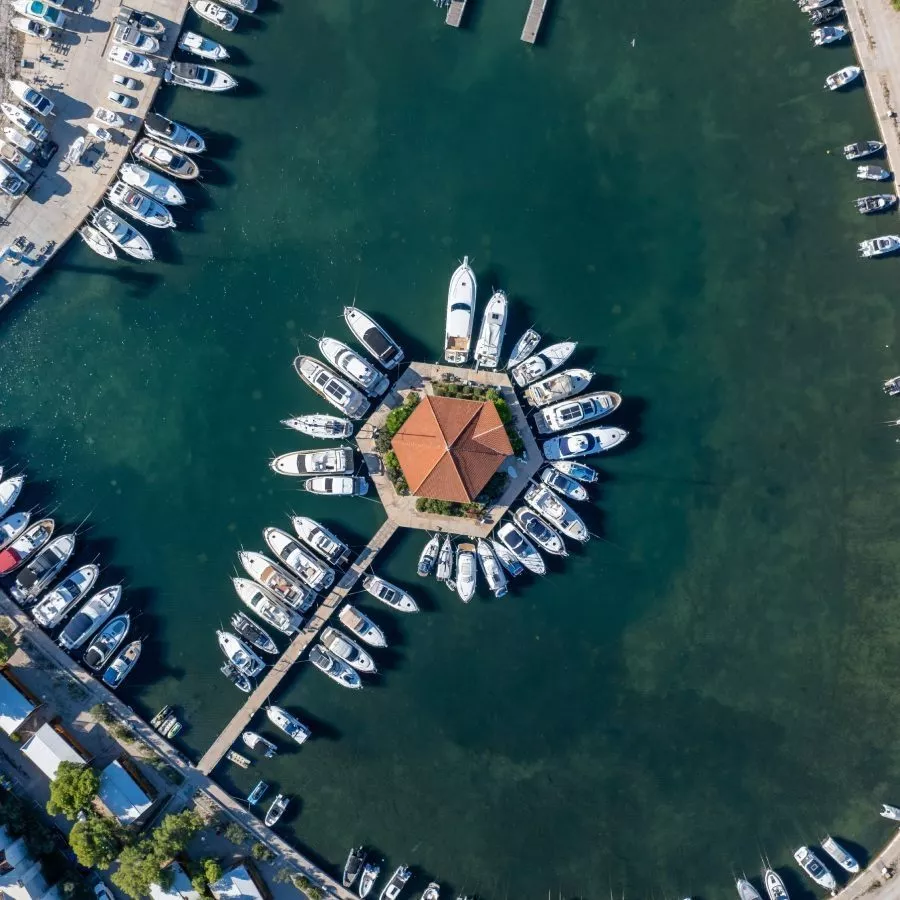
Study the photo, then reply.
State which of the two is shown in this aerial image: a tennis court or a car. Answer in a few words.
car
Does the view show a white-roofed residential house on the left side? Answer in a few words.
Yes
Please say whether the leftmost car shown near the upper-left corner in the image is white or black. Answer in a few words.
black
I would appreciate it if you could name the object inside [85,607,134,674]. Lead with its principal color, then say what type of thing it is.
blue boat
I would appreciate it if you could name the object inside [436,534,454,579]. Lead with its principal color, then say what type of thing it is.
white boat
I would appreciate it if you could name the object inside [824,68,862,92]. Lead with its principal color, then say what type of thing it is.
white boat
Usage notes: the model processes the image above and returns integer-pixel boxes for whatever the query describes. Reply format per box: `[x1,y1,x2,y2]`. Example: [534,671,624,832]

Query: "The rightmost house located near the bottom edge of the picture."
[208,852,291,900]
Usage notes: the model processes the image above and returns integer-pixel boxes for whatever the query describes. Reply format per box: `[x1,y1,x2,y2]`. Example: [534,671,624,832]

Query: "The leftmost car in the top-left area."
[36,140,60,166]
